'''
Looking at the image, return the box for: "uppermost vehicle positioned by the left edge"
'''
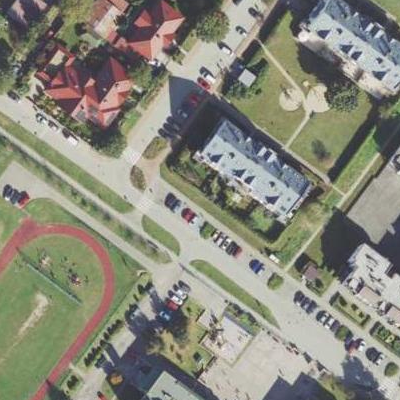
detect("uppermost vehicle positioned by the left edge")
[5,90,20,102]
